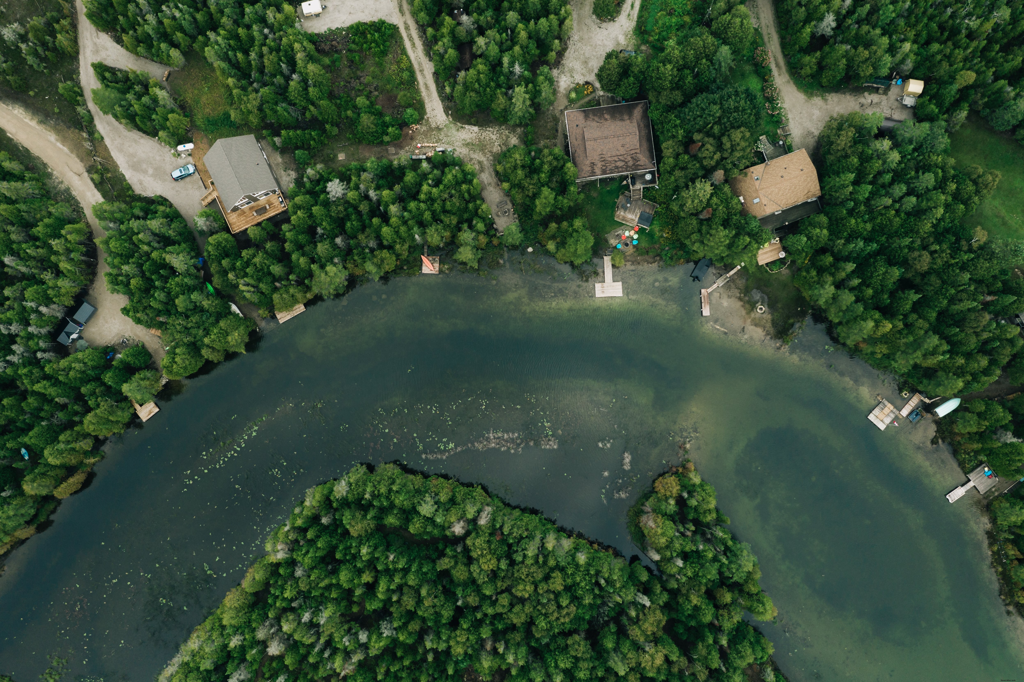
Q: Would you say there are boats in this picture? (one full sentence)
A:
Yes, the picture does show a boat.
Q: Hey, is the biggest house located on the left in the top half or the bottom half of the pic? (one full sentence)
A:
The top half of the photo is where the biggest house located on the left is.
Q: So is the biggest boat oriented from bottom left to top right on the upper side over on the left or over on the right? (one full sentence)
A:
The biggest boat oriented from bottom left to top right on the upper side is on the right side of the image.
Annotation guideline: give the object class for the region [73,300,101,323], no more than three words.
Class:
shed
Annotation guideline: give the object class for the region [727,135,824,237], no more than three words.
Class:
house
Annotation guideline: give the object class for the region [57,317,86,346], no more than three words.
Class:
shed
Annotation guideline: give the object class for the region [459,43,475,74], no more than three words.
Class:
building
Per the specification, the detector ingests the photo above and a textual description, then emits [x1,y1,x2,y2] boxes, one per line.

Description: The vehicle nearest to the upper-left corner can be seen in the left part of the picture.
[170,164,197,182]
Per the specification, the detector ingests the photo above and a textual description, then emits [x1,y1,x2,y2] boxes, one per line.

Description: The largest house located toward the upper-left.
[198,134,294,234]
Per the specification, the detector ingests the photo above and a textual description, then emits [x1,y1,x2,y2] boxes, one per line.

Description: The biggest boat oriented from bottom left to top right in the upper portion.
[690,258,712,282]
